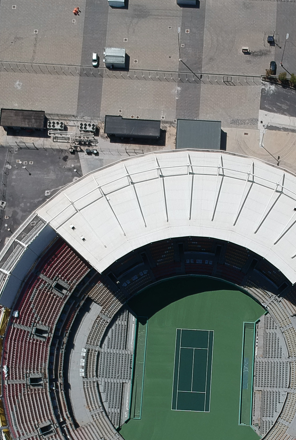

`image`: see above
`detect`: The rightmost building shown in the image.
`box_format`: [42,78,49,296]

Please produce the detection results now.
[177,120,221,149]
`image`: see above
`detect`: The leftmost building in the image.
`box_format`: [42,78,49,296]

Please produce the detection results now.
[0,108,46,131]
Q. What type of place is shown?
sports ground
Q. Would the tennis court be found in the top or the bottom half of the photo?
bottom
